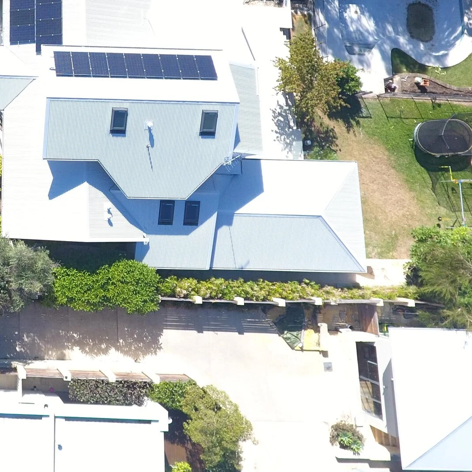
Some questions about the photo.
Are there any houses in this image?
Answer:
Yes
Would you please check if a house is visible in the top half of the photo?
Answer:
Yes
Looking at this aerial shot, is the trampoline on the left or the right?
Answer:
right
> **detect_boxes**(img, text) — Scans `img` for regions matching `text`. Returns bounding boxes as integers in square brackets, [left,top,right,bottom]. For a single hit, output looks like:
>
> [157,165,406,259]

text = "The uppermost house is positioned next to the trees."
[0,0,368,275]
